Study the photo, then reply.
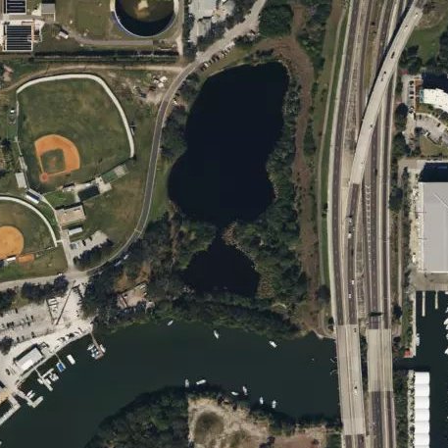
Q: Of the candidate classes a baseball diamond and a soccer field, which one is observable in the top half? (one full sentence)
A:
What appears in the top half is a baseball diamond.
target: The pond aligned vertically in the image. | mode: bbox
[168,61,287,296]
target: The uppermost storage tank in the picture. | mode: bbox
[114,0,177,33]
